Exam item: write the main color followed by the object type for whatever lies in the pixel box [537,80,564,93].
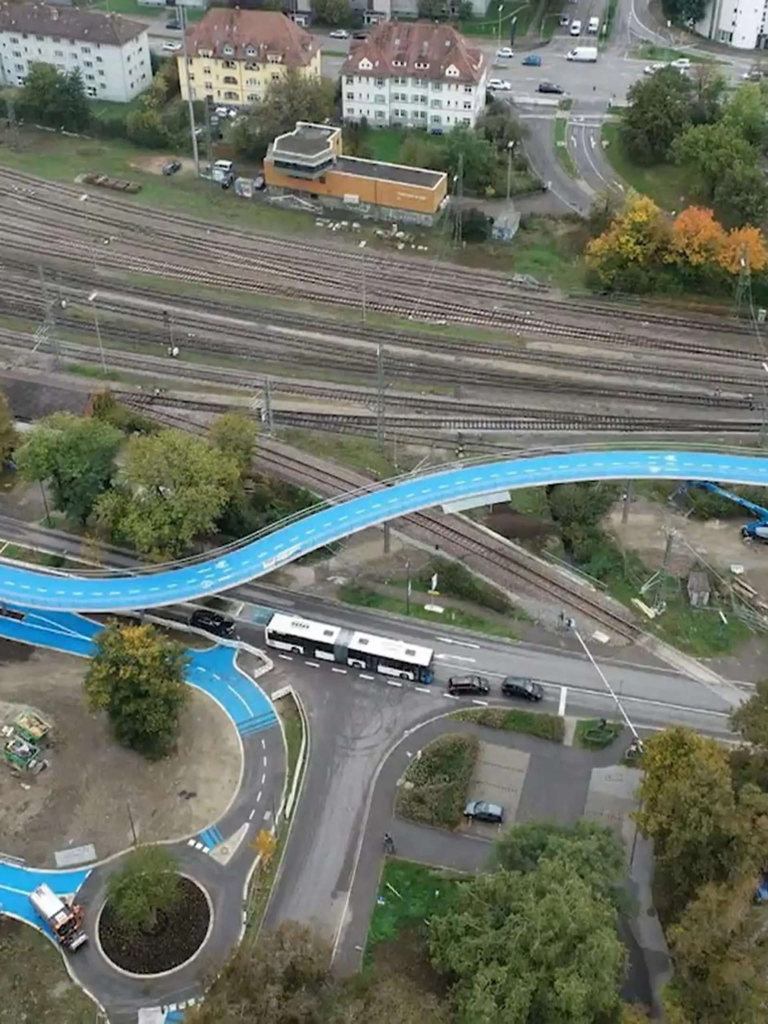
gray vehicle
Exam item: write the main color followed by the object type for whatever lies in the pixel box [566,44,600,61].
white vehicle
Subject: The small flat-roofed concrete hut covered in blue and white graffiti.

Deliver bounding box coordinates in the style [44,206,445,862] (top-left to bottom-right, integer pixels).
[493,205,527,242]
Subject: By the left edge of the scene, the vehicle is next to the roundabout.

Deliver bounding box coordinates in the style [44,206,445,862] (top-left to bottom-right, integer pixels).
[27,879,87,955]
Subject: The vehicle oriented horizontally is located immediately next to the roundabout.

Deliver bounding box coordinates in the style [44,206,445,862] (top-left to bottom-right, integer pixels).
[267,615,442,685]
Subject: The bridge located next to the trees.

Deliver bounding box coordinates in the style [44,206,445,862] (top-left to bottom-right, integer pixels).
[0,440,768,627]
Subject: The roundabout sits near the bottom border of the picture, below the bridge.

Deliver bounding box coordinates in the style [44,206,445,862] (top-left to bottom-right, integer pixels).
[60,718,286,1024]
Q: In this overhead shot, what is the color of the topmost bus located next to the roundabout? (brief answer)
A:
white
